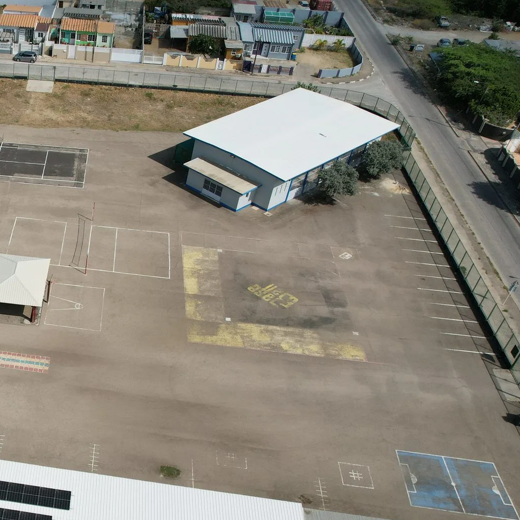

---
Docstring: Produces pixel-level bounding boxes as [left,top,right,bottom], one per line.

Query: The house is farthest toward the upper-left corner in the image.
[0,4,56,46]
